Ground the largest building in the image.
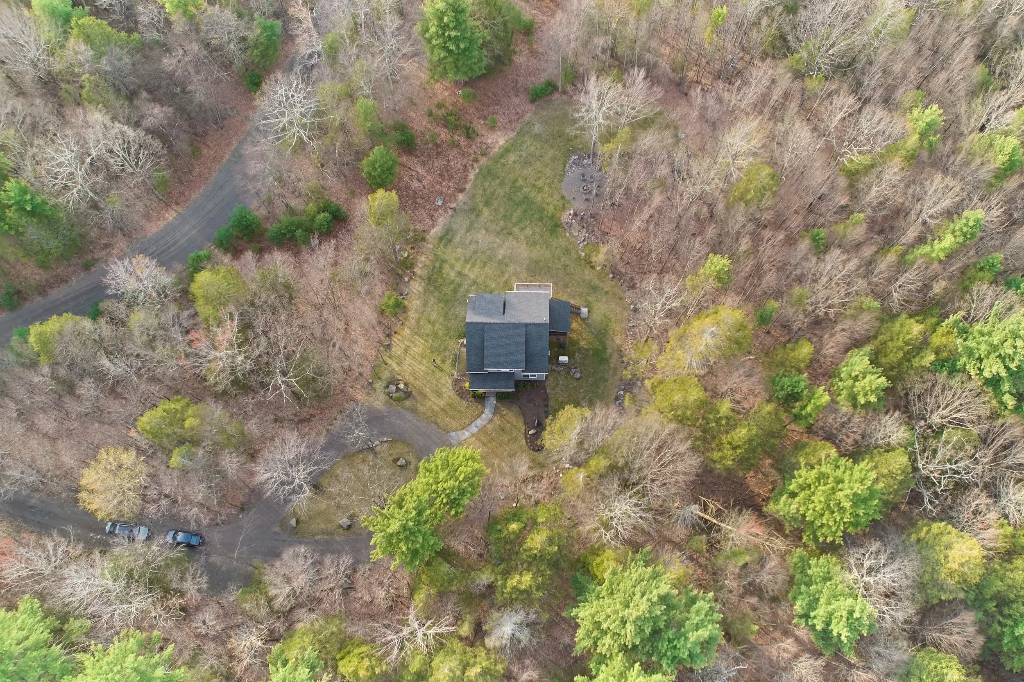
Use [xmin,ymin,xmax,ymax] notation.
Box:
[466,289,550,397]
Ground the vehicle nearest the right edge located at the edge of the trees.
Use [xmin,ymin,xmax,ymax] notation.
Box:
[165,527,203,548]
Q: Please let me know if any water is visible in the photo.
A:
No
